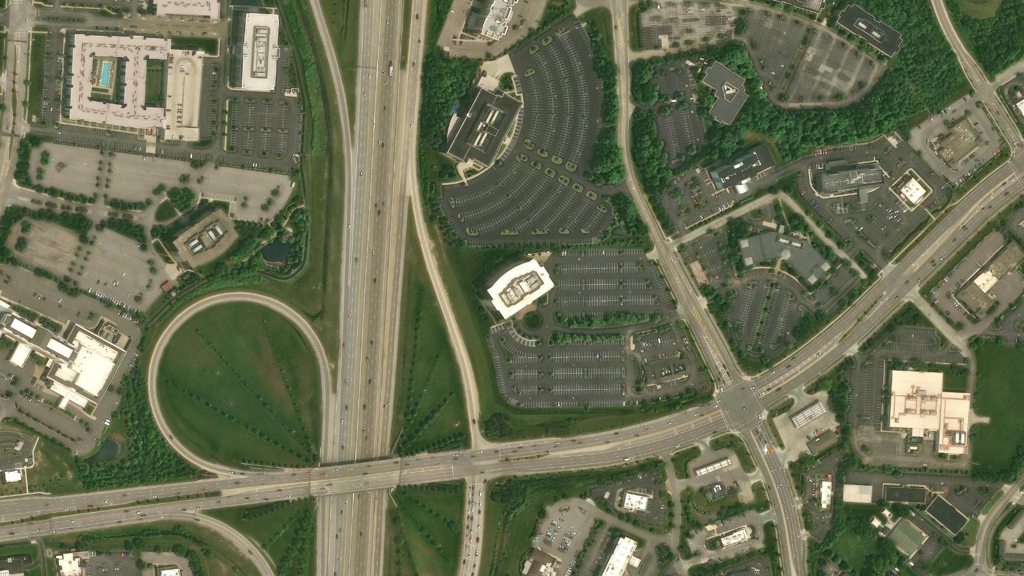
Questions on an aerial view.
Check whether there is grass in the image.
Yes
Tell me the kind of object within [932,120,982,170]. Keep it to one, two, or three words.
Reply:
building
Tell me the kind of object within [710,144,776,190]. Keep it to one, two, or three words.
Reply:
building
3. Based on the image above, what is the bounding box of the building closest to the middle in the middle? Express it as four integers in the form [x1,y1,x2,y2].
[478,258,555,319]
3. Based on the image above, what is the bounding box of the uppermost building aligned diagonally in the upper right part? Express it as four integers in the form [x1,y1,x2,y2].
[832,4,903,57]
